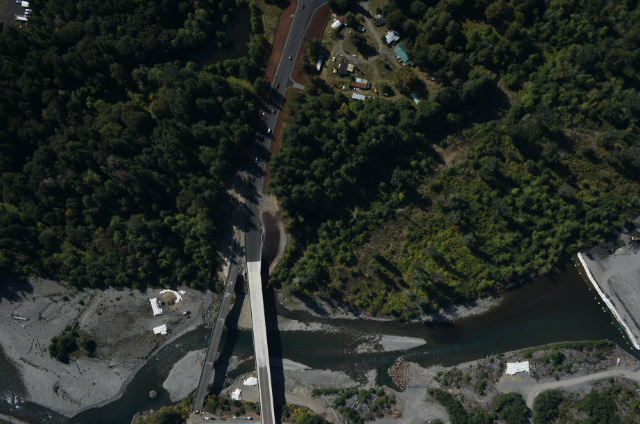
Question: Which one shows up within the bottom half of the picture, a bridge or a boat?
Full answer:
You can see a bridge within the bottom half of the picture.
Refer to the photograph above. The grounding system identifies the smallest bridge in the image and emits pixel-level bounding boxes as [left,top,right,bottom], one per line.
[194,258,240,412]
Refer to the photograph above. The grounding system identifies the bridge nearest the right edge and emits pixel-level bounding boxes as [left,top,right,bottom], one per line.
[248,262,276,424]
